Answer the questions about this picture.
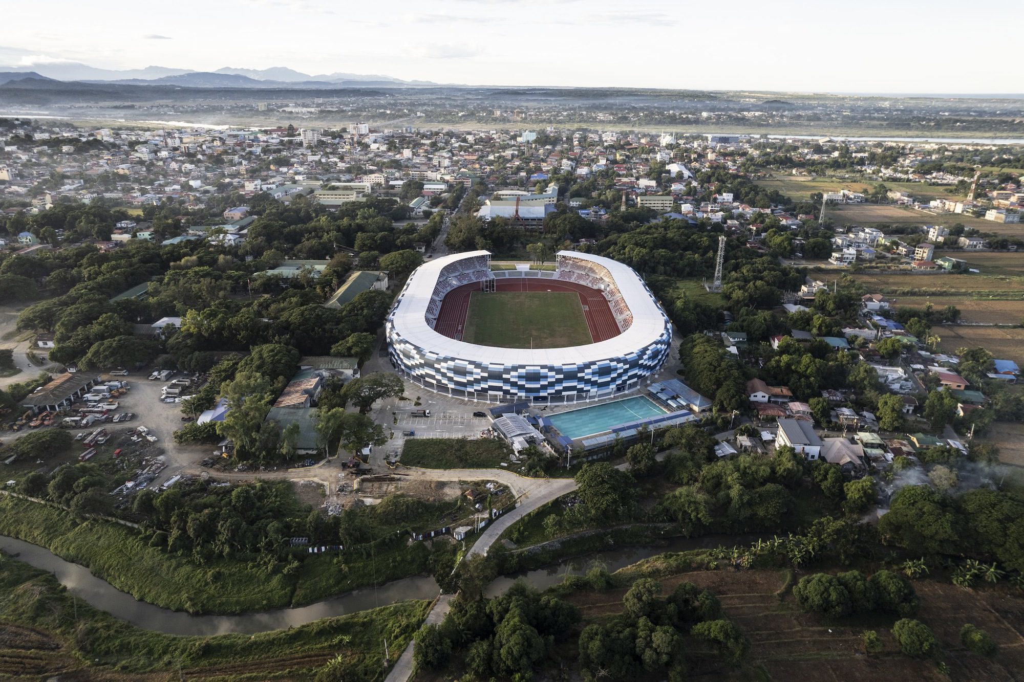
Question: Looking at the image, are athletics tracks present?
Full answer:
Yes, the picture does show an athletics track.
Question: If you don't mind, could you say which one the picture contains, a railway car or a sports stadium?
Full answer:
Visible in the photo is a sports stadium.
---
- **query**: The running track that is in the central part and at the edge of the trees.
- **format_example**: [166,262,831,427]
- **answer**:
[430,278,624,344]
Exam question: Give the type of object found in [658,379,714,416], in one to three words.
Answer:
building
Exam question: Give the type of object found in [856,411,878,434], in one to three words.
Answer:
house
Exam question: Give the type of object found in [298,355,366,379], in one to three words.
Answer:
building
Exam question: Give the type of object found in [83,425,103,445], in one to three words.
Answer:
bus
